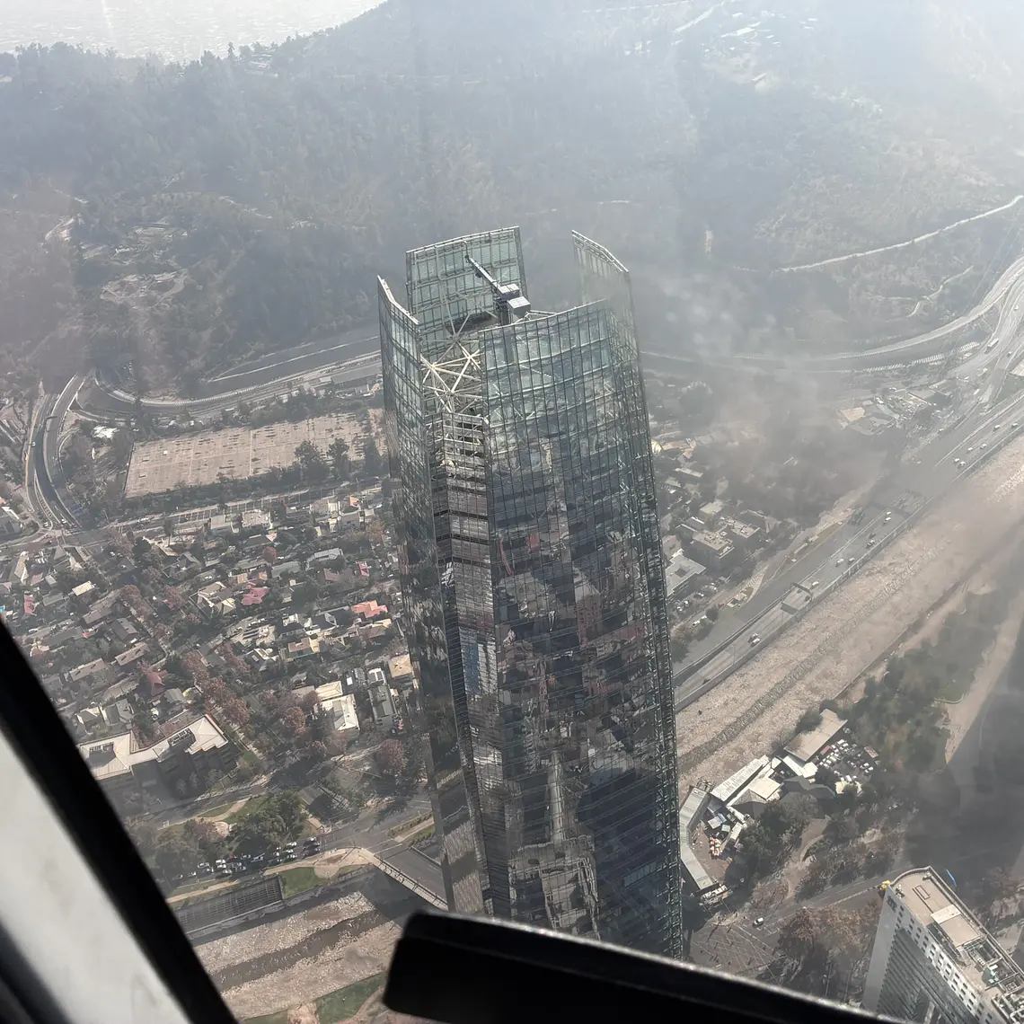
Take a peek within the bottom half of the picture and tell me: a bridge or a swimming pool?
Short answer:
bridge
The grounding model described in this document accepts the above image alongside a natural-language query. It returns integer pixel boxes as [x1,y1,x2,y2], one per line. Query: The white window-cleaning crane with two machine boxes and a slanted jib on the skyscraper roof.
[463,256,555,375]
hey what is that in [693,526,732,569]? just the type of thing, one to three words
building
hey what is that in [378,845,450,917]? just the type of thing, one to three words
bridge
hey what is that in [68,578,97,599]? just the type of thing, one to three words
house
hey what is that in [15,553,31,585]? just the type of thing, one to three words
house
